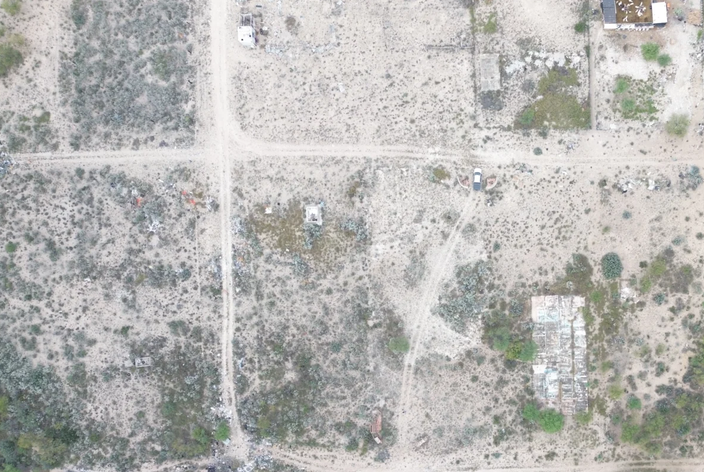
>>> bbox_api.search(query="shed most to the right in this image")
[650,2,668,26]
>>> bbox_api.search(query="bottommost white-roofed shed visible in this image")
[237,26,255,46]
